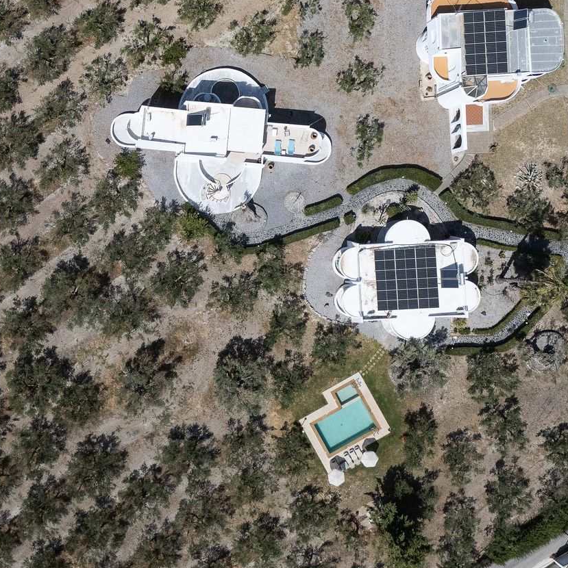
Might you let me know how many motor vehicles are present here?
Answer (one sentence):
Not a single motor vehicle can be seen.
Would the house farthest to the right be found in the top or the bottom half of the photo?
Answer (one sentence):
The house farthest to the right is in the top half of the image.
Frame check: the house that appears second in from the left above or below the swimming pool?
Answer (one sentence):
The house that appears second in from the left appears above the swimming pool in the picture.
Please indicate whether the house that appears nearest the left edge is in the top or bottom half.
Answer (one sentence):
The house that appears nearest the left edge sits in the top half of the picture.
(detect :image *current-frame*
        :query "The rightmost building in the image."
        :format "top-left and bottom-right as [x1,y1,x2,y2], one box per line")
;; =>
[414,0,564,154]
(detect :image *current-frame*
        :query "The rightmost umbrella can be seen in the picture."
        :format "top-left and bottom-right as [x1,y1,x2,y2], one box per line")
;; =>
[362,450,378,467]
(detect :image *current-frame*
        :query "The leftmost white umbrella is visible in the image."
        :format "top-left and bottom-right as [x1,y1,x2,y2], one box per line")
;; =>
[327,469,344,486]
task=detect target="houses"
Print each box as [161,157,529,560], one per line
[111,67,332,214]
[414,0,564,154]
[331,218,480,340]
